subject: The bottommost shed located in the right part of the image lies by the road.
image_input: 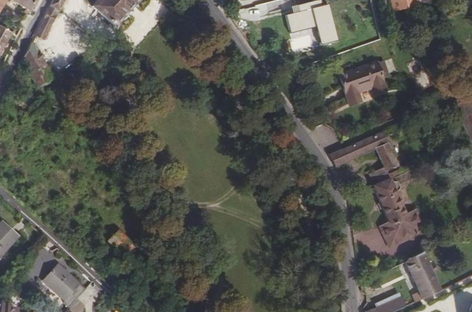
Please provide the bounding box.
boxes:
[365,292,406,312]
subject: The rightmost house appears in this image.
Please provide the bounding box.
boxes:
[406,252,442,302]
